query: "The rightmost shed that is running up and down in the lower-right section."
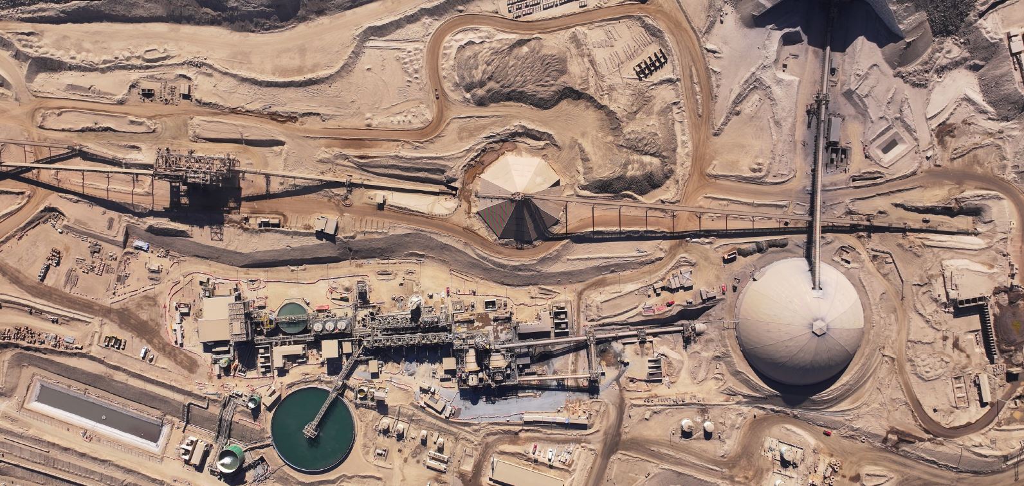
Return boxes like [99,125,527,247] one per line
[974,373,990,402]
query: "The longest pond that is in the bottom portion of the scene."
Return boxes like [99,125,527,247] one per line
[20,374,170,460]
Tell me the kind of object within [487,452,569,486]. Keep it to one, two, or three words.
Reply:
building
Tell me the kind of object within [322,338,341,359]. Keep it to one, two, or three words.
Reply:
building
